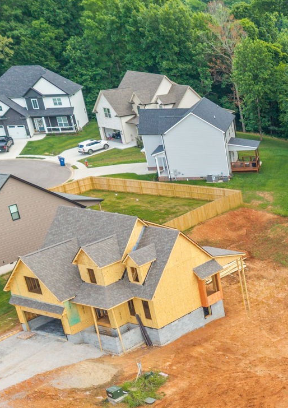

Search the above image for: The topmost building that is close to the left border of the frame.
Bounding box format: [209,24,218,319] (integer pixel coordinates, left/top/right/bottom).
[0,67,93,135]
